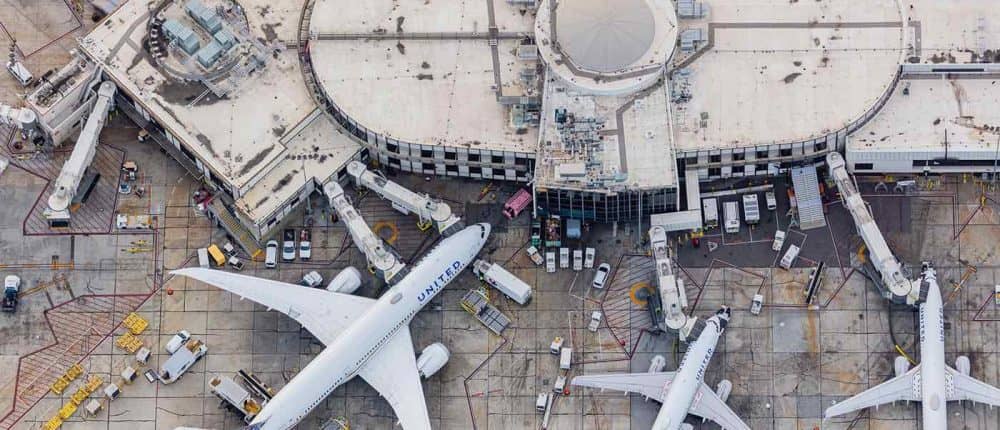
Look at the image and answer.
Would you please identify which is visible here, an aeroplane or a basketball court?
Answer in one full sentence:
The one in the frame is an aeroplane.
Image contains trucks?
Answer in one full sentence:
Yes, the frame does contain a truck.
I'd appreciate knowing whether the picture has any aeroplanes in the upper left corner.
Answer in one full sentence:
No, looking in the upper left corner, there is no aeroplane.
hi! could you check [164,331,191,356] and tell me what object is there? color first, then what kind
white vehicle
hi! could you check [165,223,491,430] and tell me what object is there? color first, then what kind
white airplane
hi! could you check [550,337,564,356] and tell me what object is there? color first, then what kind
white work vehicle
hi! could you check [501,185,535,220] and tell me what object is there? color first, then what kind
pink truck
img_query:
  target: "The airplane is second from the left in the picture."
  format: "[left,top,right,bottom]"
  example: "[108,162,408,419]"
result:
[567,316,742,430]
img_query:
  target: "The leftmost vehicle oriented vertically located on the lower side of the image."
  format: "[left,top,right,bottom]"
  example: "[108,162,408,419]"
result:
[3,276,20,310]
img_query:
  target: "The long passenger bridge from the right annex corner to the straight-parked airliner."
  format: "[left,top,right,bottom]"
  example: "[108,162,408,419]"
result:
[824,151,927,308]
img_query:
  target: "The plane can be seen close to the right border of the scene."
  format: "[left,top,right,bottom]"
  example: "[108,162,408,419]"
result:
[823,277,1000,430]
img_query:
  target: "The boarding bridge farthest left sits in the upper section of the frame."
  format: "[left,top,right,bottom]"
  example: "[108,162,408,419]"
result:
[0,104,39,141]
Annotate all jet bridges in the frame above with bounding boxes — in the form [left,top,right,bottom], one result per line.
[47,82,117,235]
[322,179,410,289]
[345,159,465,241]
[0,104,39,141]
[824,151,927,308]
[648,226,708,344]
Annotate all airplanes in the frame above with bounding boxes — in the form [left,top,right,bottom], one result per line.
[823,277,1000,430]
[165,223,491,430]
[567,316,742,430]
